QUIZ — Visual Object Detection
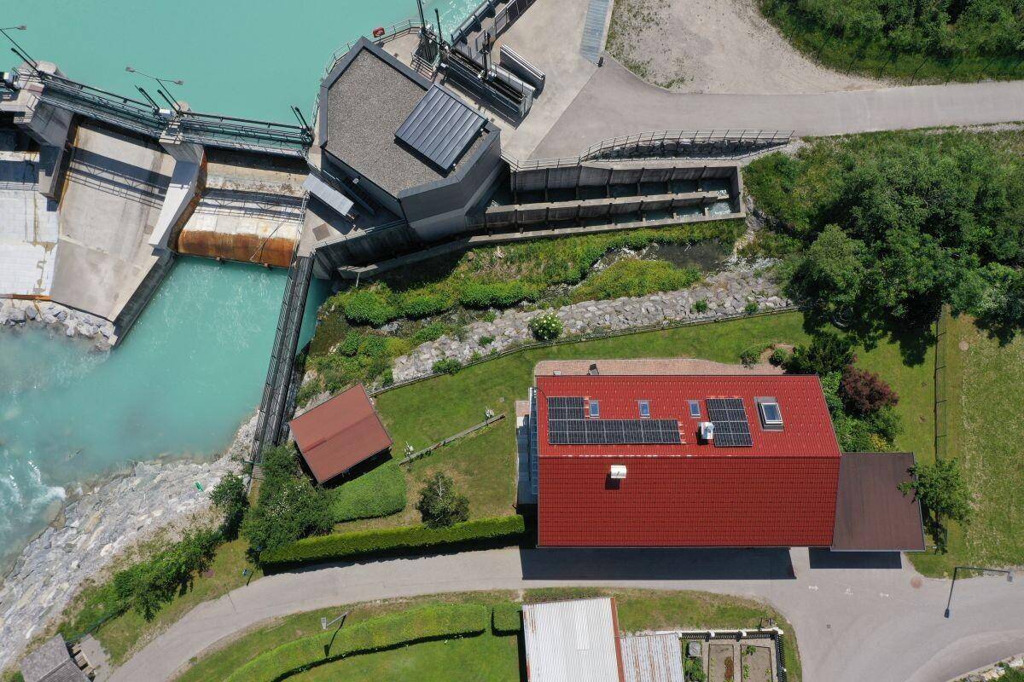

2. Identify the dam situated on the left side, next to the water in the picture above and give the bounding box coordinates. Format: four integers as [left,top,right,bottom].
[193,140,308,267]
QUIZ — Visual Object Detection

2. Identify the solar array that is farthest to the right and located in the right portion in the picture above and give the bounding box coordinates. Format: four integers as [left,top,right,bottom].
[705,399,755,446]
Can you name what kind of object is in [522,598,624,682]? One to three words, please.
shed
